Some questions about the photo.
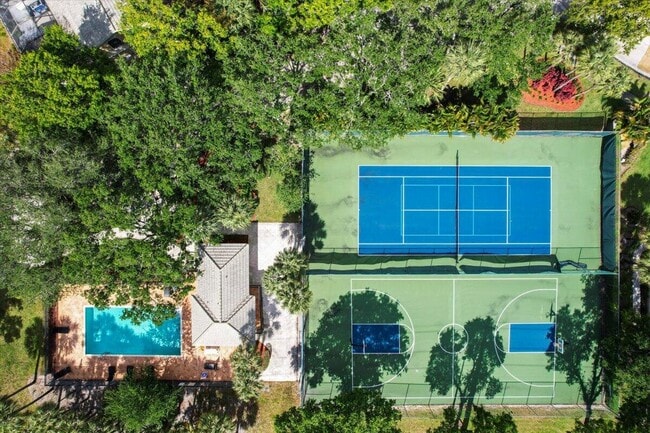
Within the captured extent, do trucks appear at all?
No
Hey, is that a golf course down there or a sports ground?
sports ground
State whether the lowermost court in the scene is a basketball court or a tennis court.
basketball court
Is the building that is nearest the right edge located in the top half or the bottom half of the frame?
bottom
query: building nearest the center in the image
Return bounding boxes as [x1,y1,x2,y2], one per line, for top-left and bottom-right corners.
[190,243,257,347]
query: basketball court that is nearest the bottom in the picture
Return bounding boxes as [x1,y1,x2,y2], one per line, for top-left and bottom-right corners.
[303,272,604,406]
